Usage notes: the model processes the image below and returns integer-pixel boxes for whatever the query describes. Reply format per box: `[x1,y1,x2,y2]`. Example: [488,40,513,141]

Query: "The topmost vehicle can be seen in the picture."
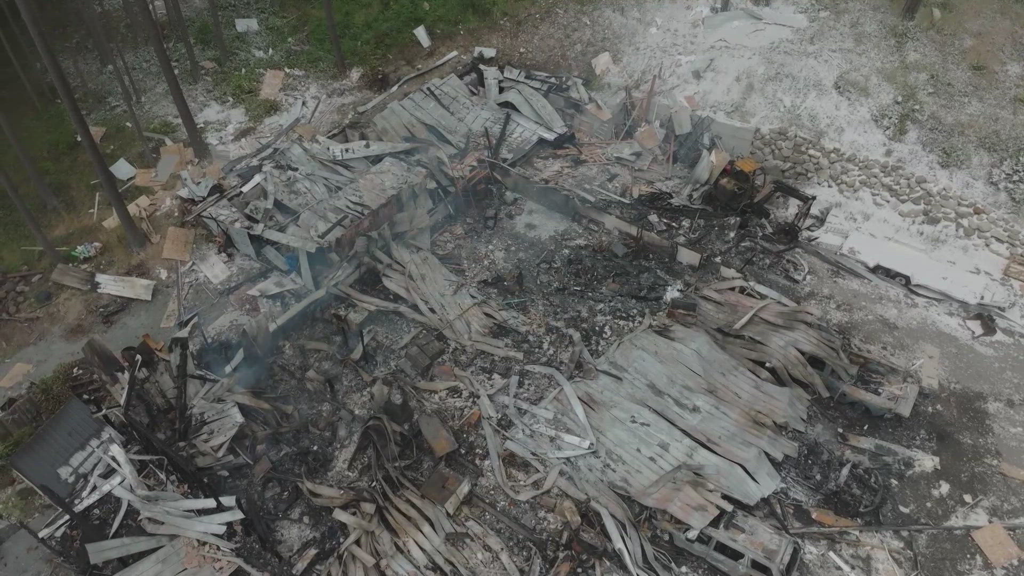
[713,157,817,241]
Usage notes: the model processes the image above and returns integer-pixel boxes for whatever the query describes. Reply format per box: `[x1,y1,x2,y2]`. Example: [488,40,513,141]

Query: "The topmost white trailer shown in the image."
[801,227,1011,308]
